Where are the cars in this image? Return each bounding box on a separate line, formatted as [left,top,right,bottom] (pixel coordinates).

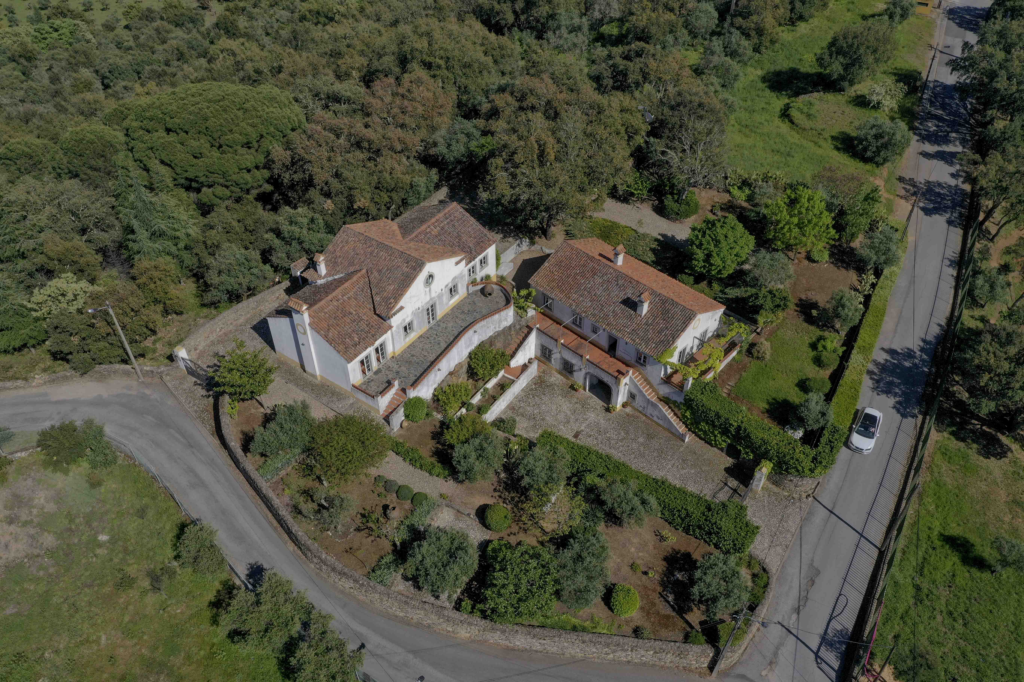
[850,405,882,454]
